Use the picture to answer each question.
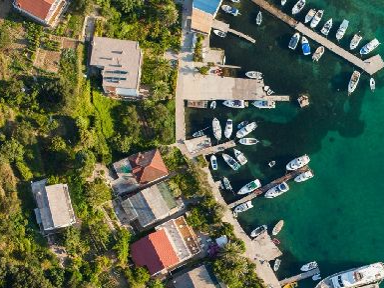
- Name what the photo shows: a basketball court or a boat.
boat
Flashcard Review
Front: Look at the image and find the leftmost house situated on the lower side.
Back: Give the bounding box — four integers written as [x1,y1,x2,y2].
[31,180,84,231]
